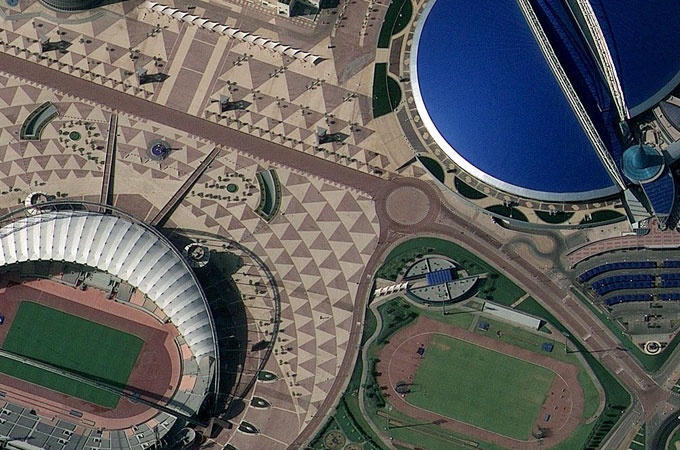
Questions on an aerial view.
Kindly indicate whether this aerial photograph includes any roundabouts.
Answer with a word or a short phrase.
Yes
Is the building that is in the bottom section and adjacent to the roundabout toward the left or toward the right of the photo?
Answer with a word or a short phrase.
right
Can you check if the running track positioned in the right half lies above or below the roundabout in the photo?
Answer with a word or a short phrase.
below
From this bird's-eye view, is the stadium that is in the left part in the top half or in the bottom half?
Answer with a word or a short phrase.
bottom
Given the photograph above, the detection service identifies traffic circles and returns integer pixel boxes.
[375,171,442,238]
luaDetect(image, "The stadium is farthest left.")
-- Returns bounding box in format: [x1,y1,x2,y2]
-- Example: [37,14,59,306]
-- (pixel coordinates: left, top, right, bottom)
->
[0,199,228,450]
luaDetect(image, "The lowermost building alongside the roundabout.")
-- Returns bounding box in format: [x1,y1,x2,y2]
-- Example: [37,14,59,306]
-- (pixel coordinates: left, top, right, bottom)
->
[403,258,482,309]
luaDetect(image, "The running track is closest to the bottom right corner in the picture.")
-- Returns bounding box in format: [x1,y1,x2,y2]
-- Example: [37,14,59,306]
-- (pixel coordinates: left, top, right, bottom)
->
[377,317,586,450]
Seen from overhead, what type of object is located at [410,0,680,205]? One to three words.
building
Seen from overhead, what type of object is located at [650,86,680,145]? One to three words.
building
